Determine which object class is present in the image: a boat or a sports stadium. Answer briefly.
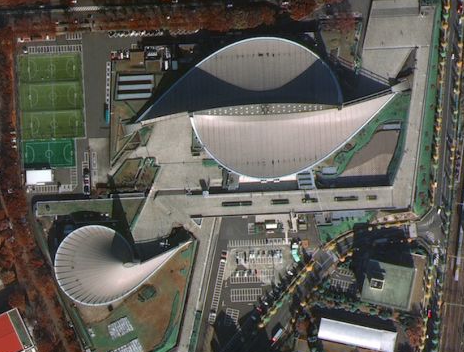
sports stadium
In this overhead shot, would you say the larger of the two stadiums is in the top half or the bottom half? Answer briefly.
top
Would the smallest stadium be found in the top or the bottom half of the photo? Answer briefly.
bottom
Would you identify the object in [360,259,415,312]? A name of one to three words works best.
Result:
building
